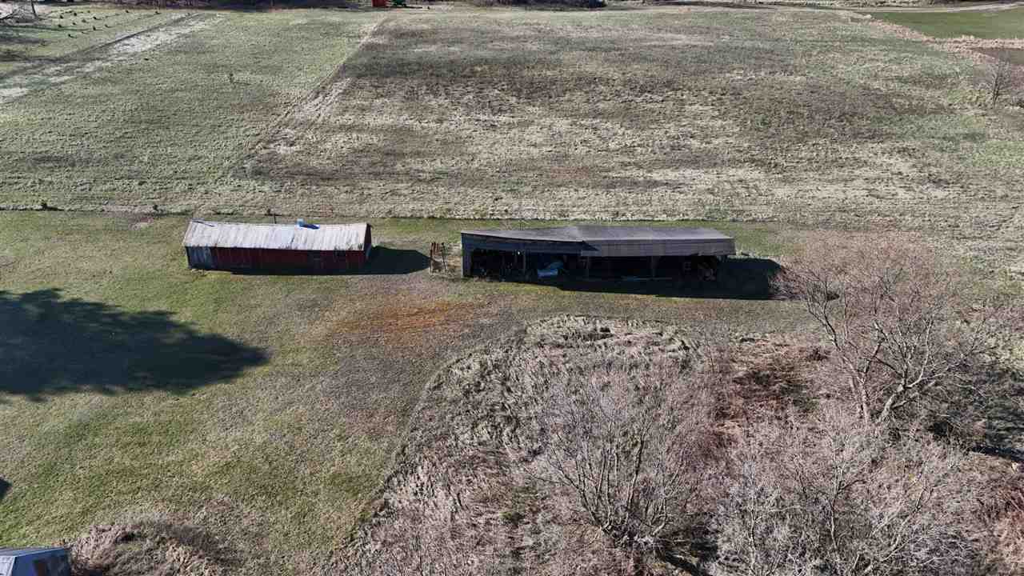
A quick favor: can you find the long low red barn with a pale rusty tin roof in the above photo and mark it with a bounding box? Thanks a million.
[178,204,378,271]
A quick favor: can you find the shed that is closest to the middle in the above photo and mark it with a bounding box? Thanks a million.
[458,224,736,282]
